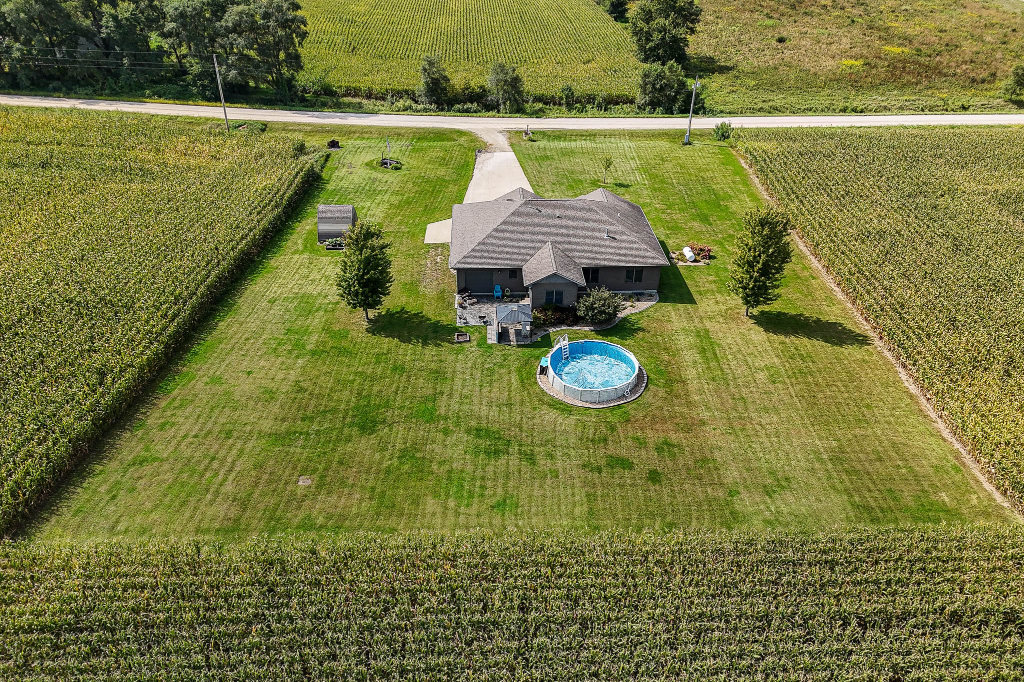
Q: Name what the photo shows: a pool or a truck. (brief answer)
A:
pool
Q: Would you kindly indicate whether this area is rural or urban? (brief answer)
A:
rural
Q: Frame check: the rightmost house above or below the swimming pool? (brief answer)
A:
above it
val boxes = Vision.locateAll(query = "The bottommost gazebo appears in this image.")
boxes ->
[496,303,533,343]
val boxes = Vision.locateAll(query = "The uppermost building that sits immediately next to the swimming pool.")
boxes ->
[448,186,670,310]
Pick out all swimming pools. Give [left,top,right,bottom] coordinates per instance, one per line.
[547,340,640,403]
